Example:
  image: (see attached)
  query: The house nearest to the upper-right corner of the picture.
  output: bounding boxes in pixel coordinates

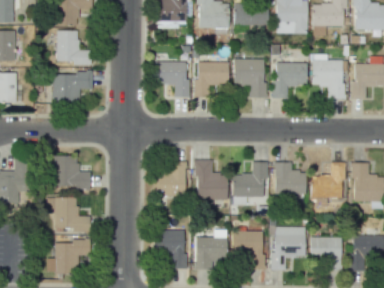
[350,0,384,31]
